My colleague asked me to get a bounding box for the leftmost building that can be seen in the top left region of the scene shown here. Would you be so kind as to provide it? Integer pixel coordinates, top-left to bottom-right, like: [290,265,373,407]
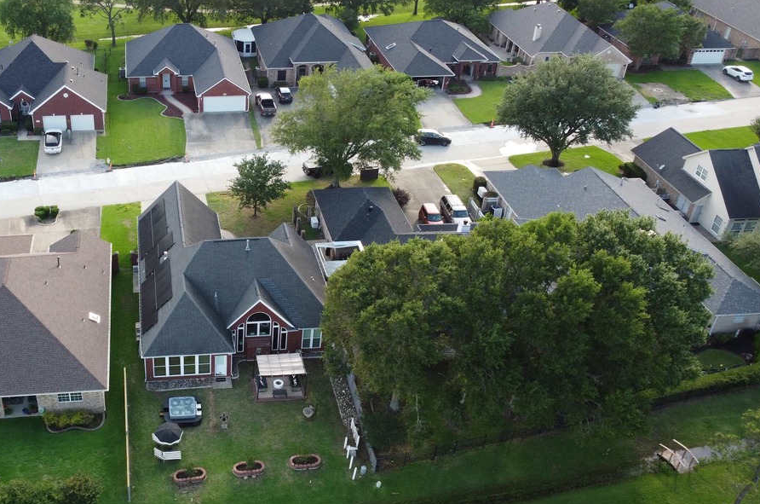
[0,38,109,136]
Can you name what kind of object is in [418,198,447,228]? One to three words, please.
car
